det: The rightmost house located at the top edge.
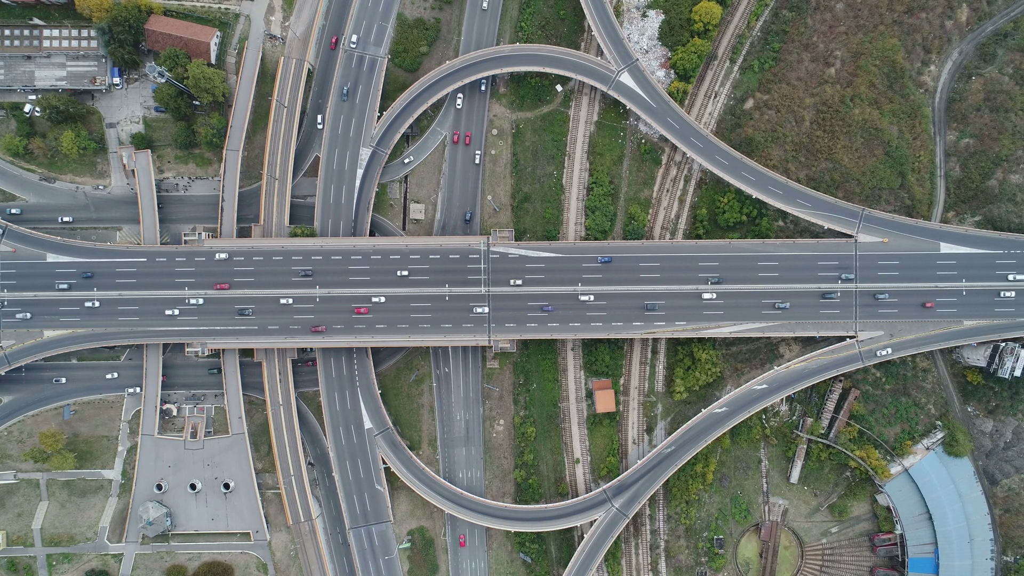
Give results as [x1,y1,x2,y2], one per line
[144,15,224,65]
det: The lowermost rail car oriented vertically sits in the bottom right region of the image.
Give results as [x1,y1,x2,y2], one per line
[785,415,813,483]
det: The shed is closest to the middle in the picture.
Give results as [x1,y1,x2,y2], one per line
[589,379,616,413]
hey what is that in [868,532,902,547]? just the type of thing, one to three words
rail car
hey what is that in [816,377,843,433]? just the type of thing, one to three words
rail car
